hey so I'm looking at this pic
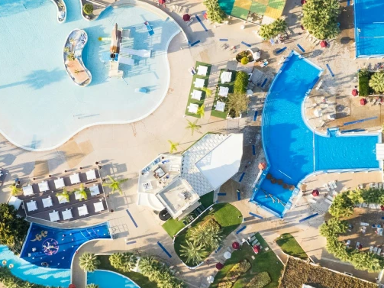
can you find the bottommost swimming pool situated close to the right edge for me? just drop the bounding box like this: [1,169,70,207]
[249,49,383,219]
